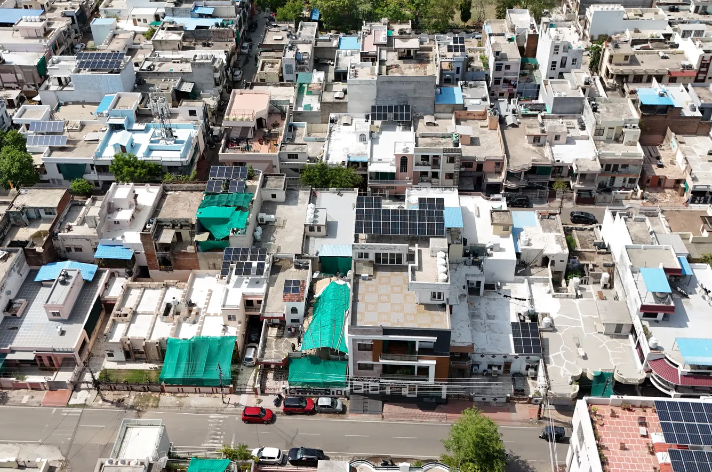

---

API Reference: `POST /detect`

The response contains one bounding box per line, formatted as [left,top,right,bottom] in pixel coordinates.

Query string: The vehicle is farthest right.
[570,209,598,225]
